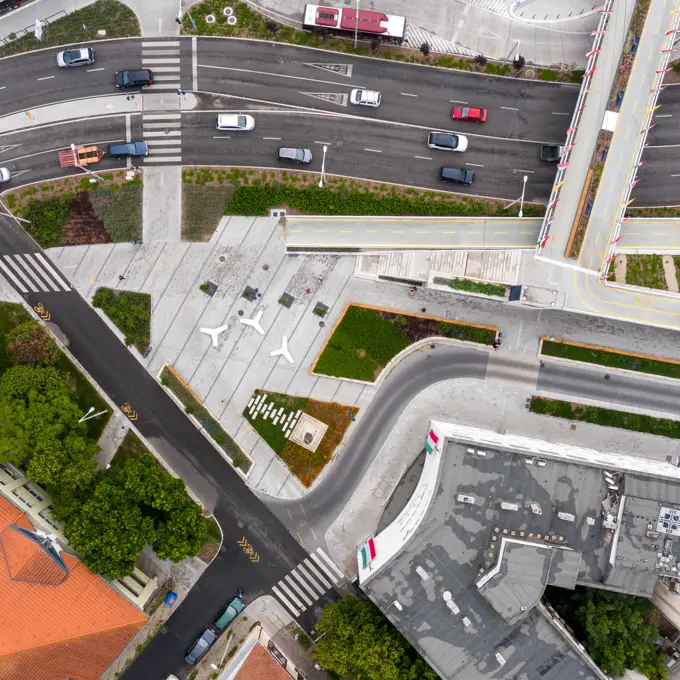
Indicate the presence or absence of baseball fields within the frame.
No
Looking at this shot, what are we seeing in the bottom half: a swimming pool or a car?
car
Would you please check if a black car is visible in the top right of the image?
Yes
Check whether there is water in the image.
No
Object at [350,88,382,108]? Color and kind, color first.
white car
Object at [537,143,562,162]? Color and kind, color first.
black car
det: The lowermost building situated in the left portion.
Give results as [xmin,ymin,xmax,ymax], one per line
[212,619,307,680]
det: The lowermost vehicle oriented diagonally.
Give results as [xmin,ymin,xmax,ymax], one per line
[183,627,219,666]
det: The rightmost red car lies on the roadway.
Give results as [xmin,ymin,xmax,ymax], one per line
[452,104,488,124]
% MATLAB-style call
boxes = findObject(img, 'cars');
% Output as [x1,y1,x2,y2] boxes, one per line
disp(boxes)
[108,139,150,160]
[428,131,468,153]
[0,166,13,183]
[439,166,474,186]
[183,627,219,666]
[116,68,155,90]
[537,143,562,162]
[452,104,488,124]
[58,48,97,70]
[210,594,247,631]
[216,112,256,133]
[278,146,313,165]
[350,88,382,108]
